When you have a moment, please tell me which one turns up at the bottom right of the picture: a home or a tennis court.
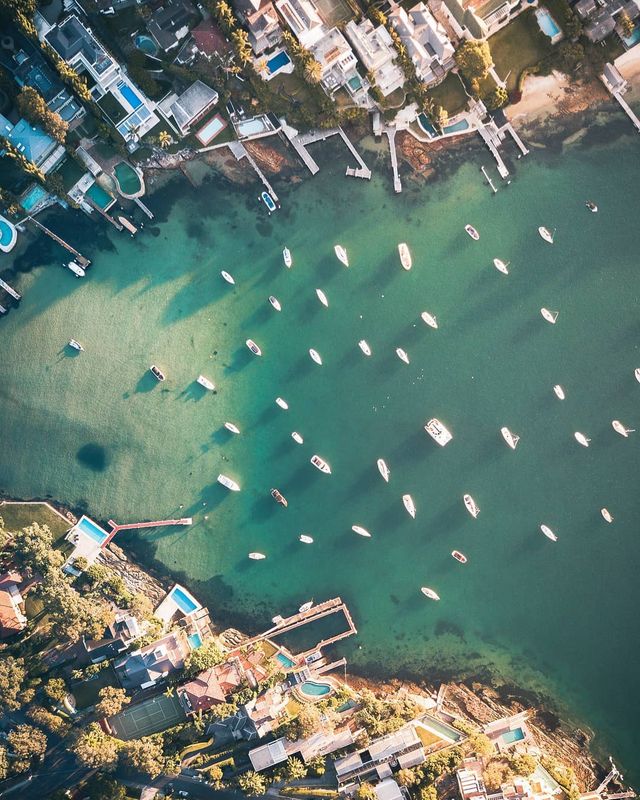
home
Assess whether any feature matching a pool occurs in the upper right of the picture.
Yes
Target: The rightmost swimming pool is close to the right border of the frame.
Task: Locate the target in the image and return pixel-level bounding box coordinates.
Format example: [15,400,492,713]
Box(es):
[618,26,640,52]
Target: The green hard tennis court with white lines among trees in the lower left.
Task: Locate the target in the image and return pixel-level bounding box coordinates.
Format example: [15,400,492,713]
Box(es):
[109,691,184,743]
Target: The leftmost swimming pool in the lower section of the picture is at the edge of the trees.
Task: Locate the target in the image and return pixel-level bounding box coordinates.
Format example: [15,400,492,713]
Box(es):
[63,513,111,577]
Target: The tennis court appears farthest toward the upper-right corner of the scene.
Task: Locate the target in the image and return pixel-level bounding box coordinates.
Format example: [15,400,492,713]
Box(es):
[318,0,362,24]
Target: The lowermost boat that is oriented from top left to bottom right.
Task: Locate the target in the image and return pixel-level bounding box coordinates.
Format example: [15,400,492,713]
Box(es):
[420,587,440,604]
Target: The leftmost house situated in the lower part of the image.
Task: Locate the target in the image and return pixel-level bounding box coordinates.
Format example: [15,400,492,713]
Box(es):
[0,568,30,641]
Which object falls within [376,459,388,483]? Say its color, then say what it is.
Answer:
white boat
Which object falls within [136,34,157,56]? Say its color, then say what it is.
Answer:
blue swimming pool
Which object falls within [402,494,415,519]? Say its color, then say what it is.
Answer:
white boat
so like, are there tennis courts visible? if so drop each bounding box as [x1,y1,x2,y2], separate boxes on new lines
[318,0,362,24]
[109,691,184,743]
